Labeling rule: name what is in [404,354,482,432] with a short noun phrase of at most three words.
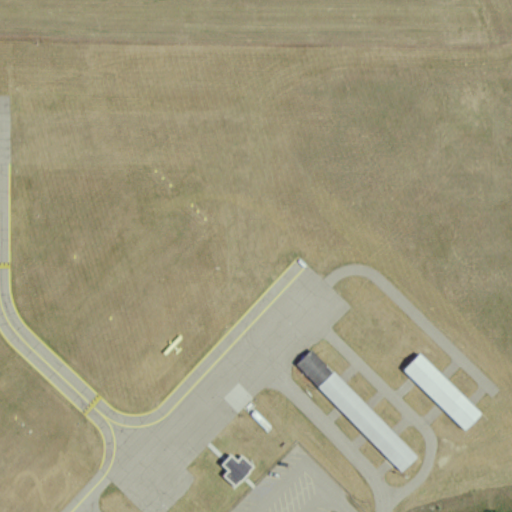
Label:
hangar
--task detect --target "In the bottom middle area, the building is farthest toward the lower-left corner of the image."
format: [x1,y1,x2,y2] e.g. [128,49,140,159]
[222,456,254,488]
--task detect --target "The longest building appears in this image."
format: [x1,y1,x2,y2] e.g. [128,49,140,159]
[297,351,418,472]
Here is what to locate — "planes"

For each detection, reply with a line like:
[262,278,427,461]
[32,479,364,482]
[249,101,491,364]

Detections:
[164,336,182,354]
